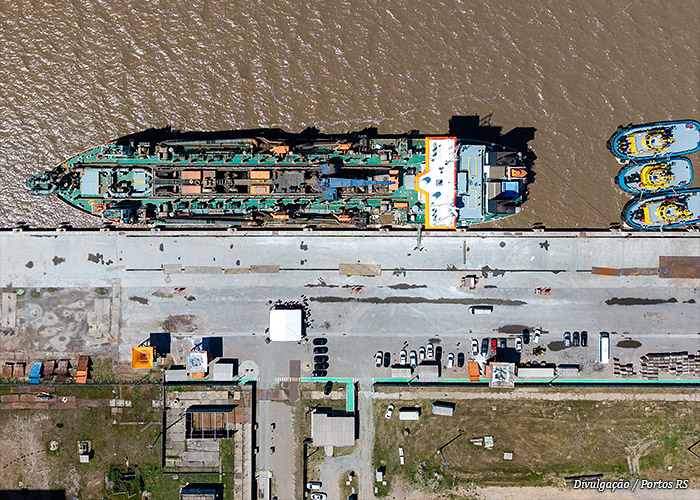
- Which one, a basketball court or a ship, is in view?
ship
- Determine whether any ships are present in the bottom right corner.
No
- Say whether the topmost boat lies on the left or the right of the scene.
right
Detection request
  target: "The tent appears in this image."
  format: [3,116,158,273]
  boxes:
[269,307,304,341]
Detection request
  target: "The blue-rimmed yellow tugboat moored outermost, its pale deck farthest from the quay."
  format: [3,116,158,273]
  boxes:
[604,119,700,161]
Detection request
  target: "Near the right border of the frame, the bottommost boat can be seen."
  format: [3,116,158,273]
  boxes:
[619,185,700,228]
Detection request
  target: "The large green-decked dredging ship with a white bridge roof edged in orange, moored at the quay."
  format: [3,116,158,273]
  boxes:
[27,135,531,230]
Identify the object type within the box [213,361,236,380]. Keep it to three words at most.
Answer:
building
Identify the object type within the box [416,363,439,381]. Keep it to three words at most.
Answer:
building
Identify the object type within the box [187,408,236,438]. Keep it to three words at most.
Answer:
shed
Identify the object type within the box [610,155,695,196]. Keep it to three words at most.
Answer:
boat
